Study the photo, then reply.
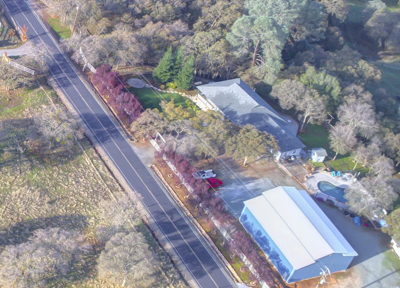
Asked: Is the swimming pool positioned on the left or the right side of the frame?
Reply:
right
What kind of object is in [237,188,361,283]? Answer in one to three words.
building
